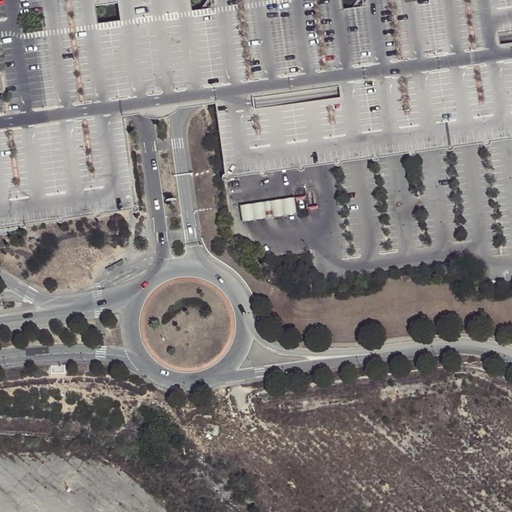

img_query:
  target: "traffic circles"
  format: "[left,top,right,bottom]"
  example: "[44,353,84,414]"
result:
[95,237,258,392]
